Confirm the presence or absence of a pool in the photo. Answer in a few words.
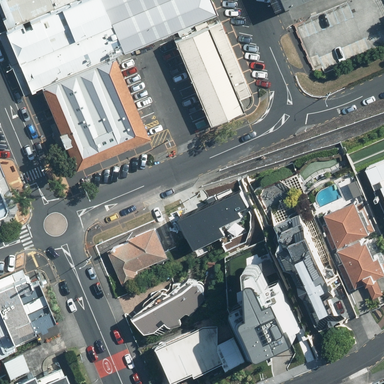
Yes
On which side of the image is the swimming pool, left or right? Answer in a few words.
right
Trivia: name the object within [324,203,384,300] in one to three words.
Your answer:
house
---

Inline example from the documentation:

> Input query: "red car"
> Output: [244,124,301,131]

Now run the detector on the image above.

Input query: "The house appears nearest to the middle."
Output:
[168,190,250,256]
